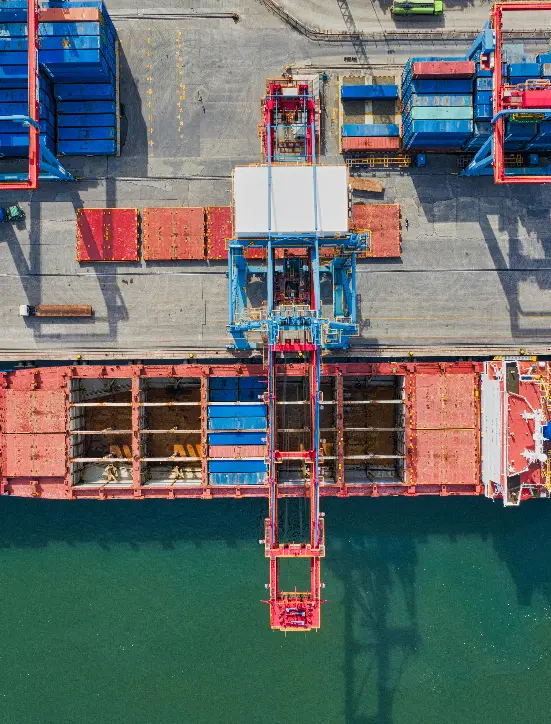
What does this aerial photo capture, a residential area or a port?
port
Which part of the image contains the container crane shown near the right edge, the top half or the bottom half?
top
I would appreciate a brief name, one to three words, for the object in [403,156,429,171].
work vehicle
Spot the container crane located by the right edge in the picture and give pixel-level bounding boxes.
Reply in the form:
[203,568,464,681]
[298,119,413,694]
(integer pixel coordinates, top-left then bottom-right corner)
[459,4,551,186]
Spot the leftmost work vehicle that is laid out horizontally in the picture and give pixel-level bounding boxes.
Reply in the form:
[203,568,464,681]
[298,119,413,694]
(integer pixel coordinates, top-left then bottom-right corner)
[2,208,29,221]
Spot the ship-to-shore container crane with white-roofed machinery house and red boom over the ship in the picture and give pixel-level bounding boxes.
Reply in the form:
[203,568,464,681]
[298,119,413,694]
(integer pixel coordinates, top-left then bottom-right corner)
[221,74,374,637]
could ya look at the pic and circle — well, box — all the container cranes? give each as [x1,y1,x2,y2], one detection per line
[459,4,551,186]
[221,74,374,637]
[0,0,72,194]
